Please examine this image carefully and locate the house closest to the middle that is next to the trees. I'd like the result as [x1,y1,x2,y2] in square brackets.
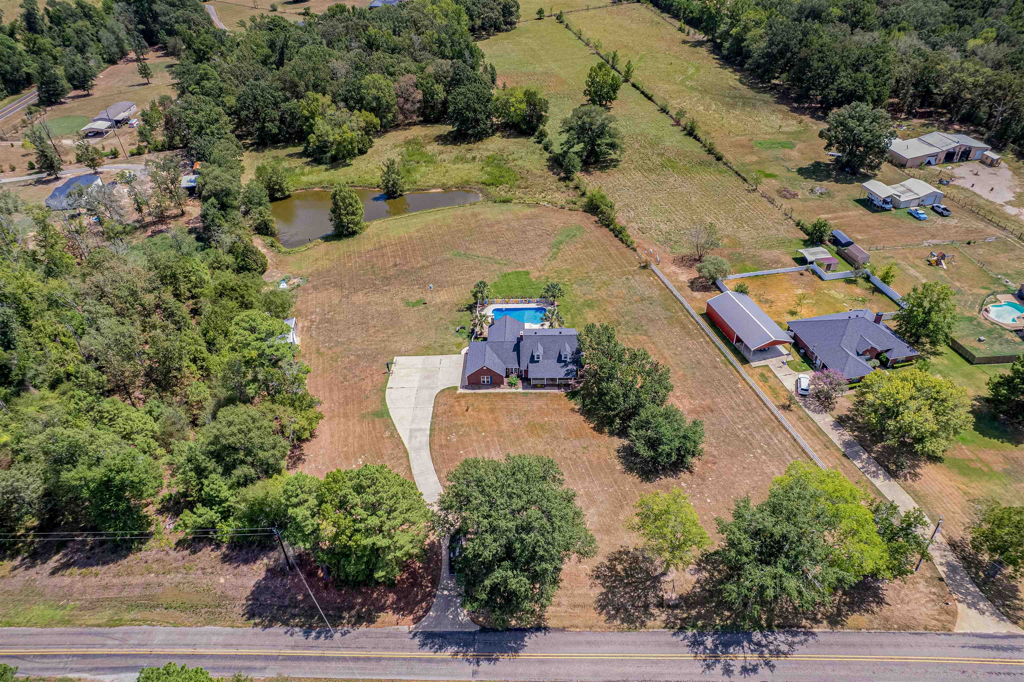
[465,311,580,387]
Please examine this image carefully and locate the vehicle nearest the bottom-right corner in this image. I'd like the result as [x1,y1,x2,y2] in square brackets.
[798,376,811,397]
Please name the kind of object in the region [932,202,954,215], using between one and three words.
vehicle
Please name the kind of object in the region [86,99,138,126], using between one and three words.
house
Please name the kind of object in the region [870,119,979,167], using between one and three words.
building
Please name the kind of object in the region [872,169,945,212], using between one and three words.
building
